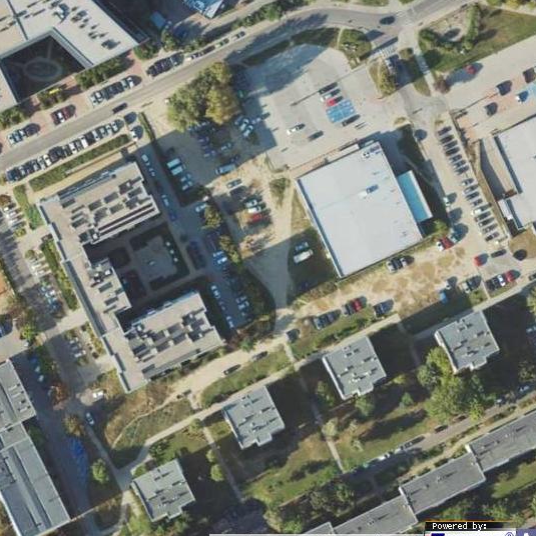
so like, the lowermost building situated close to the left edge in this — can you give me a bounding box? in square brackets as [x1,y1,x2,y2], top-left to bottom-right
[0,437,72,536]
